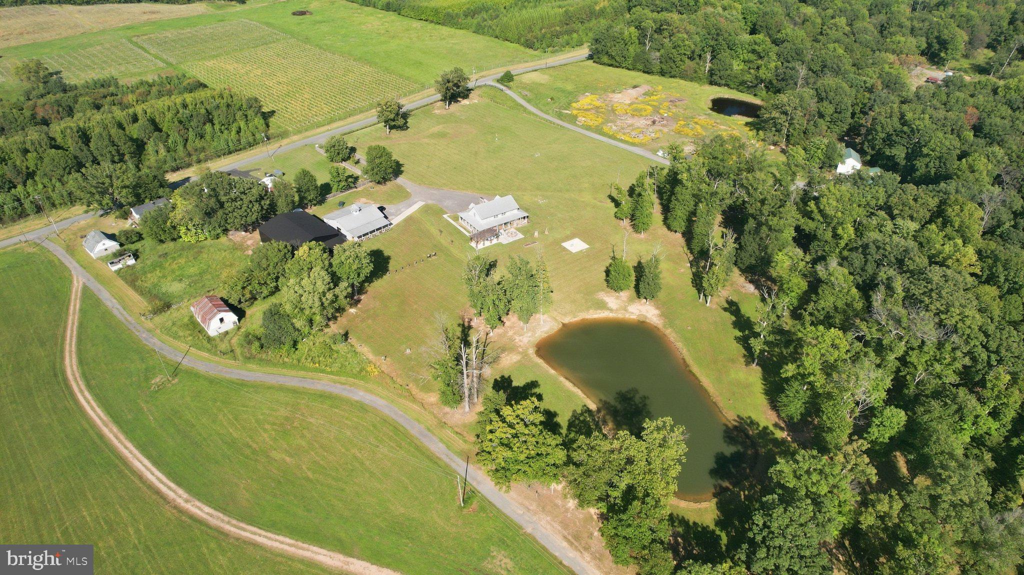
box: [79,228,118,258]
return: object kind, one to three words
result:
barn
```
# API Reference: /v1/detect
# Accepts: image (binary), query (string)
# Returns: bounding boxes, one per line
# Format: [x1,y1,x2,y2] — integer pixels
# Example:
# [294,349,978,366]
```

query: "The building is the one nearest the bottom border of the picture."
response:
[190,287,239,335]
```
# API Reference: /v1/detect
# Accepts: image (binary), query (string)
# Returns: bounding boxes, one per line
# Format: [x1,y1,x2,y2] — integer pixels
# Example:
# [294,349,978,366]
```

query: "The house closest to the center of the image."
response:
[458,193,529,234]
